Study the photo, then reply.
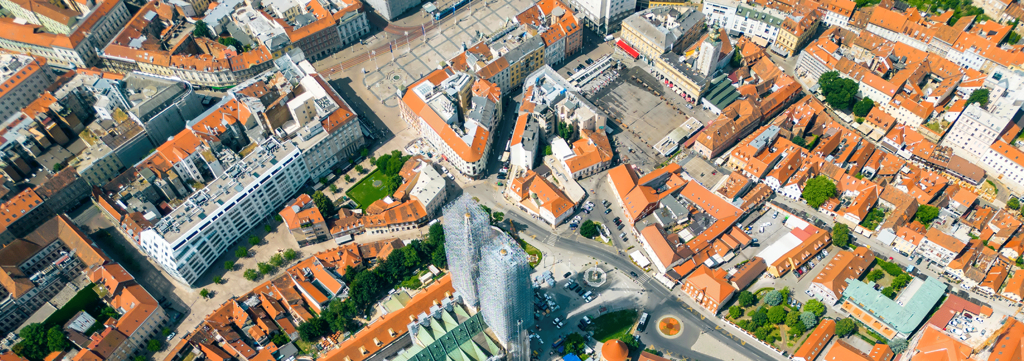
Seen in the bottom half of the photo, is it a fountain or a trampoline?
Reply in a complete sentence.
There is a fountain in the bottom half of the photo.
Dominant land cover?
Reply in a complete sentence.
Most of the picture is covered by buildings.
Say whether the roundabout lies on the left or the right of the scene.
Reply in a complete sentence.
The roundabout appears in the right half of the scene.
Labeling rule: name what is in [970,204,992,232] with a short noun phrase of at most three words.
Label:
house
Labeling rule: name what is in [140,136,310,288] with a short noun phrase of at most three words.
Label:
building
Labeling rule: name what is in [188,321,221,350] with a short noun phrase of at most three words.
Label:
house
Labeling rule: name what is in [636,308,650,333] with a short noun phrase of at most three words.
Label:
vehicle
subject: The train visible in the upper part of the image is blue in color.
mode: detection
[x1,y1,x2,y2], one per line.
[434,0,473,21]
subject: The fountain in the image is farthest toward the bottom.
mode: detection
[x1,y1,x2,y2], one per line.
[583,261,607,288]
